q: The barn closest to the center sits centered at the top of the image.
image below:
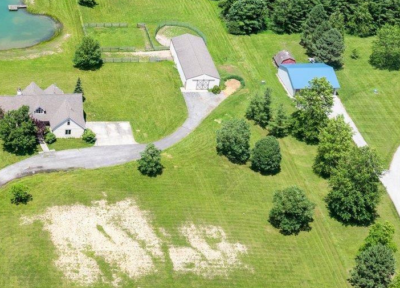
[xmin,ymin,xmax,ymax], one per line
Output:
[173,32,221,89]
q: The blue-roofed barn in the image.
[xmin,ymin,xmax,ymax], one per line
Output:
[277,64,341,98]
